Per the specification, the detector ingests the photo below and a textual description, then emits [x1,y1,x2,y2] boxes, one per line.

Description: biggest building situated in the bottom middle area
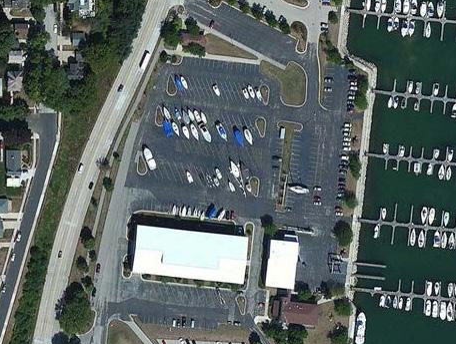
[131,225,247,285]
